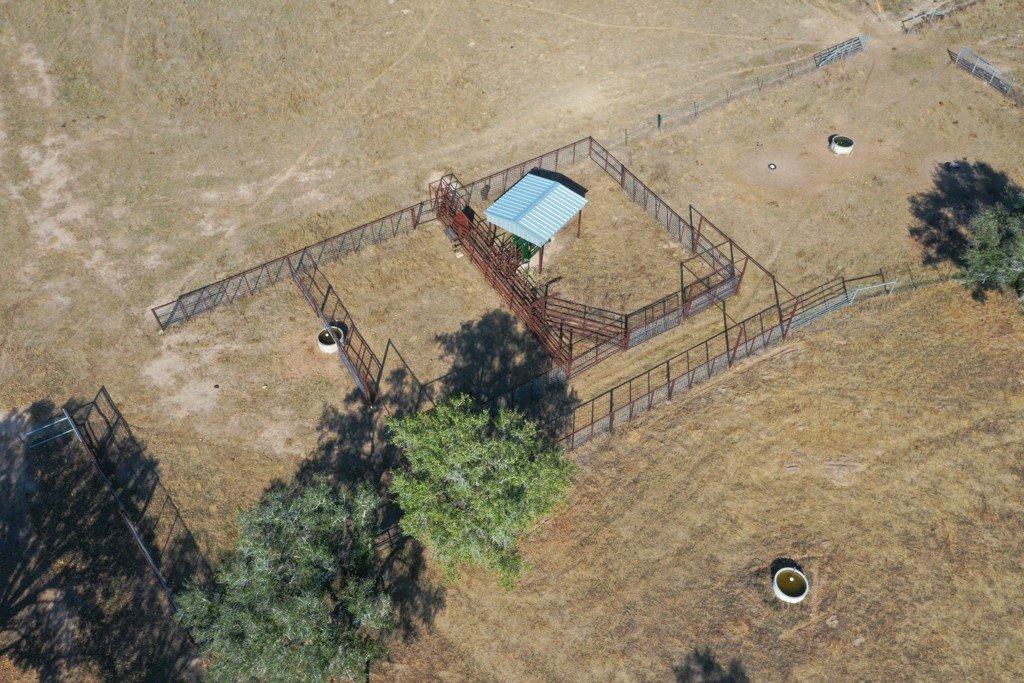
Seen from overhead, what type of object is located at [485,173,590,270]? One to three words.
shed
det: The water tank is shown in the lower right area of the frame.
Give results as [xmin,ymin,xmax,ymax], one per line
[769,565,808,604]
